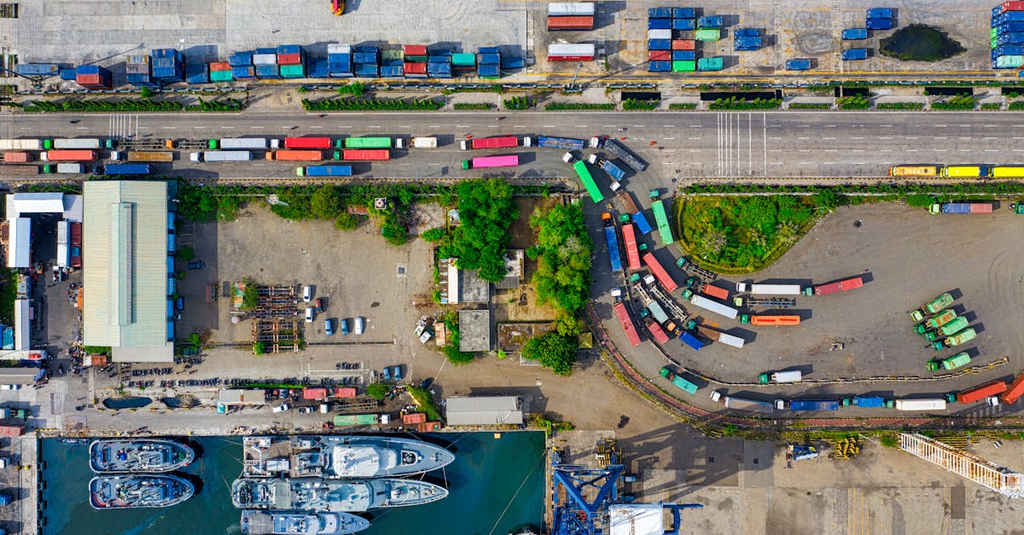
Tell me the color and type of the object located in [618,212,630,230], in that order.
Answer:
green vehicle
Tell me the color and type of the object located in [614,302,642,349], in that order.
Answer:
red shipping container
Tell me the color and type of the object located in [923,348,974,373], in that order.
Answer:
green truck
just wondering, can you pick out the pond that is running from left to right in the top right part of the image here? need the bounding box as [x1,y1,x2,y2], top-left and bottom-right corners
[879,23,967,62]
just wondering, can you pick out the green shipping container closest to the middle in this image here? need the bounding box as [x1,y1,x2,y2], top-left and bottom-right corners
[573,159,604,205]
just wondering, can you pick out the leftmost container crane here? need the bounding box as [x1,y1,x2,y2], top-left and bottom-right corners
[551,449,704,535]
